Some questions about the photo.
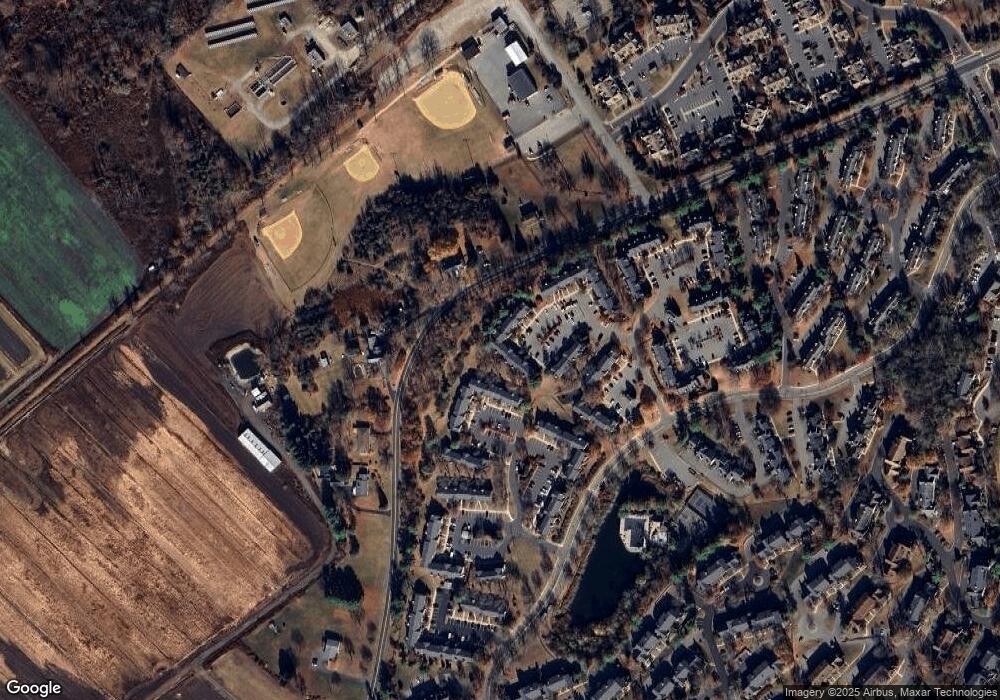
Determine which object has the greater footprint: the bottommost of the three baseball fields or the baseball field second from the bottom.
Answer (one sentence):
The bottommost of the three baseball fields takes up more space than the baseball field second from the bottom does.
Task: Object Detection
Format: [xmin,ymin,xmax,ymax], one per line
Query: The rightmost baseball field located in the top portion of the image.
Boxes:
[415,71,476,129]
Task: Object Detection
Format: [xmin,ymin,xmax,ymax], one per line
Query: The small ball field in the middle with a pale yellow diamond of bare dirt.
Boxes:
[344,144,379,181]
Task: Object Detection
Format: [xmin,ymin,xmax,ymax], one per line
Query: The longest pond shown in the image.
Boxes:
[568,470,667,628]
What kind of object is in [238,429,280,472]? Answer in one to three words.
building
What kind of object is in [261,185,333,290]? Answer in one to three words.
baseball field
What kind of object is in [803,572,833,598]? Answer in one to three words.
house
